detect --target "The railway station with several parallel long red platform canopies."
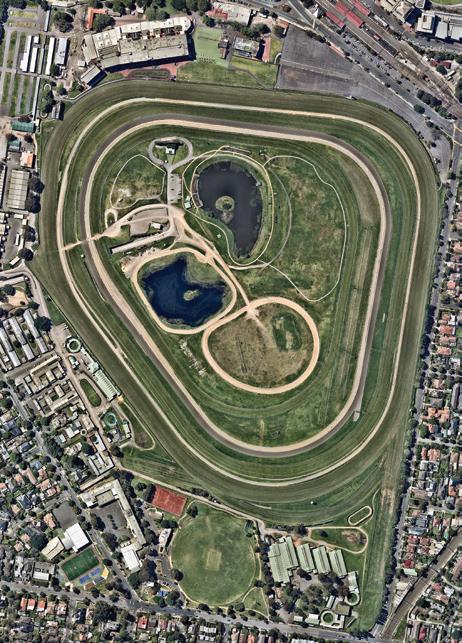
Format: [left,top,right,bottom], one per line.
[317,0,417,72]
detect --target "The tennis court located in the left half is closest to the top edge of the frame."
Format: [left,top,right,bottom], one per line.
[148,485,188,517]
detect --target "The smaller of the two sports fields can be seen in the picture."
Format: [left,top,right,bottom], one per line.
[60,545,100,583]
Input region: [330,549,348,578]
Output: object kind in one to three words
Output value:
building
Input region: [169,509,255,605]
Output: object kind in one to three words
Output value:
sports field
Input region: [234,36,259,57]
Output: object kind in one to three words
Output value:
building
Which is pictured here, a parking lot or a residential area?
residential area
